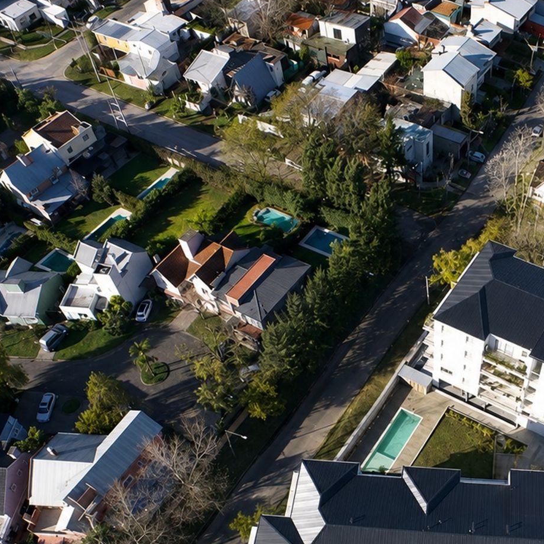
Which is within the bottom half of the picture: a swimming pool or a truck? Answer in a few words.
swimming pool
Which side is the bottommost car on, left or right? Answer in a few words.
left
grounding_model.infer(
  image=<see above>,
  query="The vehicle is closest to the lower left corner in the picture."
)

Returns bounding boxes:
[37,394,57,420]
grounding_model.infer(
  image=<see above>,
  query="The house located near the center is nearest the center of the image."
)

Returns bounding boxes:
[144,231,310,348]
